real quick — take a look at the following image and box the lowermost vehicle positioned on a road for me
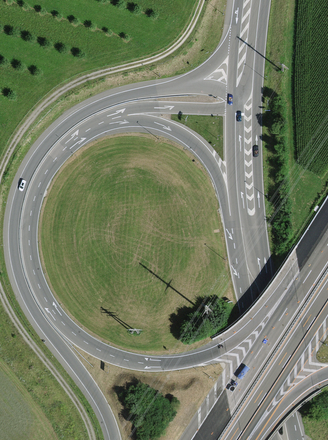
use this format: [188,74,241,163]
[233,363,250,386]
